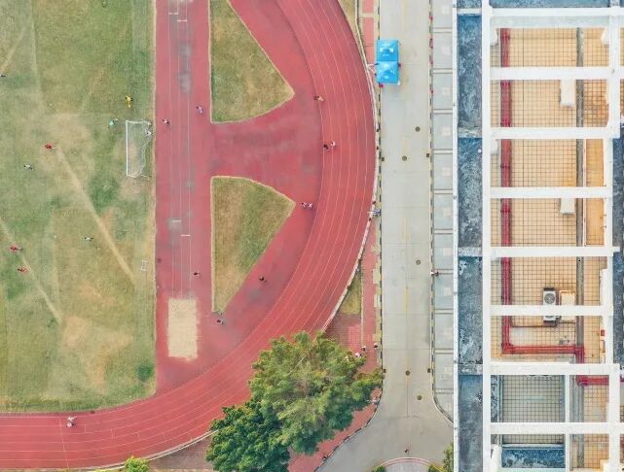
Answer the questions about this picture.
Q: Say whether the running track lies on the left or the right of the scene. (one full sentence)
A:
It is on the left.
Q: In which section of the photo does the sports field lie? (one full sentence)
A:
The sports field is in the left part of the image.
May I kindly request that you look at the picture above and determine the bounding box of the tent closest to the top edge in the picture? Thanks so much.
[377,39,400,63]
